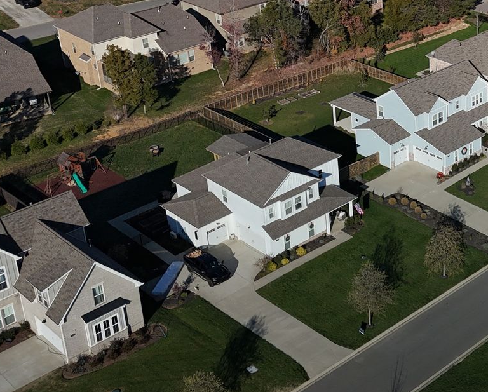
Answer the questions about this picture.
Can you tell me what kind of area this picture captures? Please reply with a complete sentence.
What you see here is a residential area.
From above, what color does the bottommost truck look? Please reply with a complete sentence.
From above, the bottommost truck appears black.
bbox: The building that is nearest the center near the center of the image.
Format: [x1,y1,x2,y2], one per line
[159,120,361,257]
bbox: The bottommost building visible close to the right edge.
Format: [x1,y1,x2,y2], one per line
[330,57,488,173]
